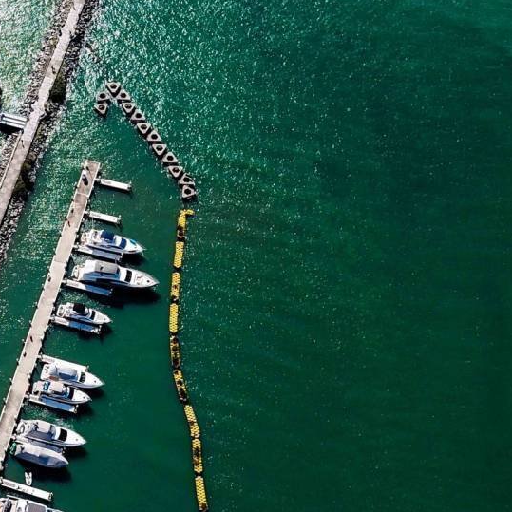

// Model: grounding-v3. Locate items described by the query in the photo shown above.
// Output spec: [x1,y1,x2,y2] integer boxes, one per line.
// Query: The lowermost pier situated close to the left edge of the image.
[0,477,53,500]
